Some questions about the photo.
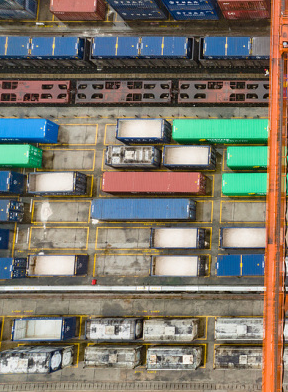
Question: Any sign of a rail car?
Yes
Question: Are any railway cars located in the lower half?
No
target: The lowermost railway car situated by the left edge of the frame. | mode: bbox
[0,80,75,103]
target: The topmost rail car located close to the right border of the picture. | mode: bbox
[199,36,287,67]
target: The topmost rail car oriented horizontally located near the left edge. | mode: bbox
[0,35,93,67]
